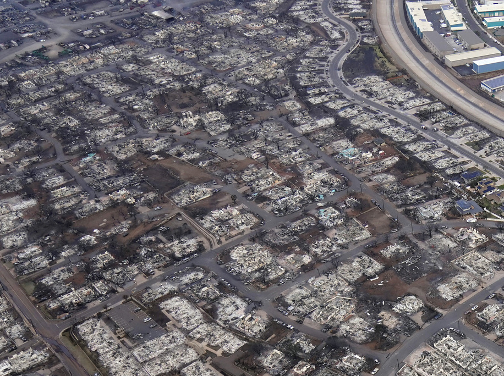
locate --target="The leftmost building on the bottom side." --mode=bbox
[76,317,117,350]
